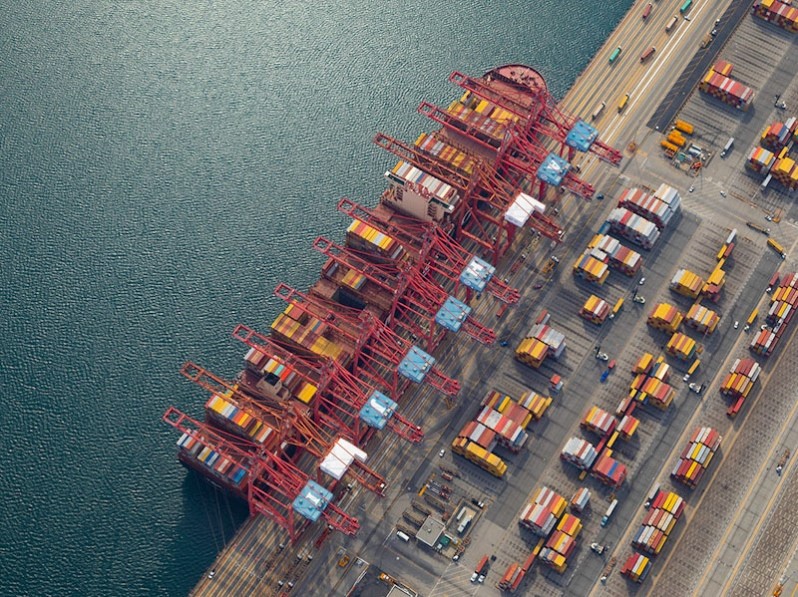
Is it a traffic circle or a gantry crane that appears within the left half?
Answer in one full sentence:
Visible within the left half is a gantry crane.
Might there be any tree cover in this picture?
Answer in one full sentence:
No, there is no tree cover in the image.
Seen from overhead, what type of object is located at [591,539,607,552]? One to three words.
vehicle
